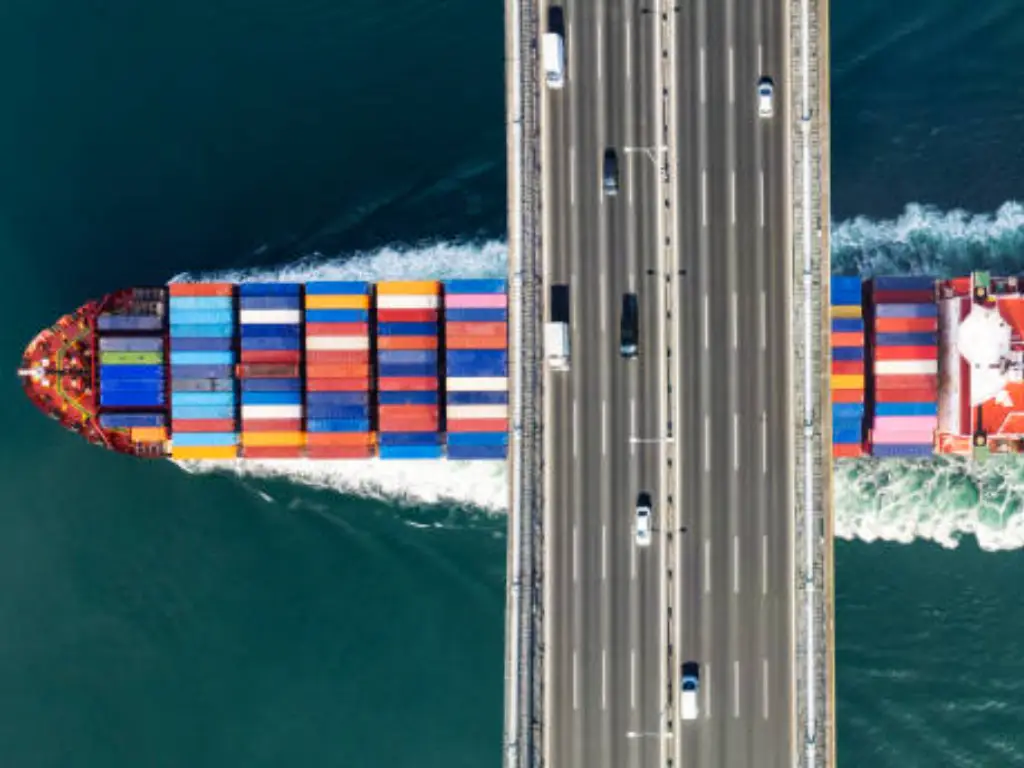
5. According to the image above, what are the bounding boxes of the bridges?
[503,0,832,768]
